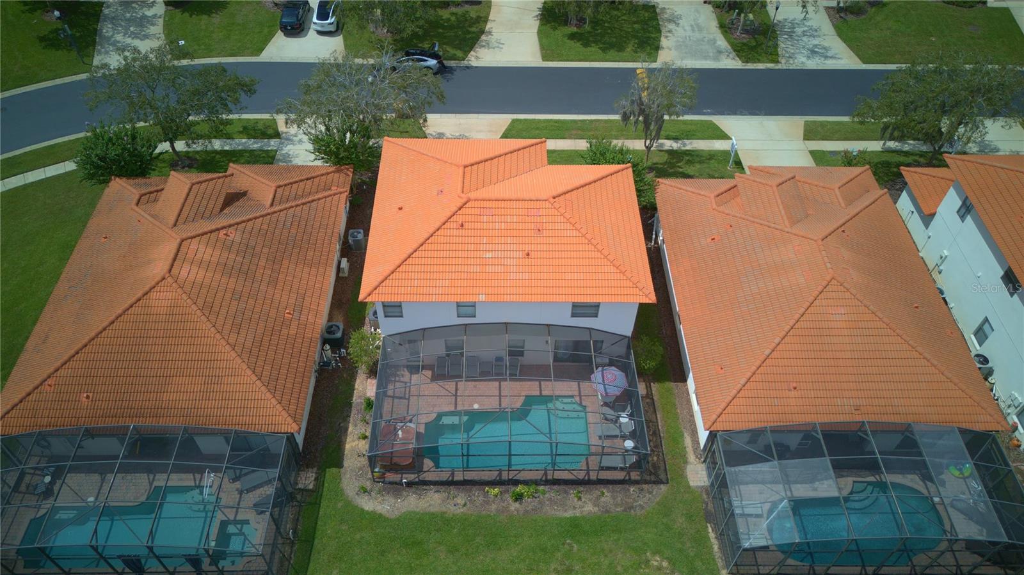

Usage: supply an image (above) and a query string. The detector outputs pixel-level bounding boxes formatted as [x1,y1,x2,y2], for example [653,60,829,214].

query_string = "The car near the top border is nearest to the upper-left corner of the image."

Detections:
[276,0,312,27]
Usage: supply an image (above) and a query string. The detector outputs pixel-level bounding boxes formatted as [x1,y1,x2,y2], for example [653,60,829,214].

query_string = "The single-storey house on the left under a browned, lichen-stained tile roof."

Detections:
[0,163,351,450]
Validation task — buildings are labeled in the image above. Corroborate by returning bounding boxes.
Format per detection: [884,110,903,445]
[0,163,351,450]
[358,136,657,365]
[653,165,1010,454]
